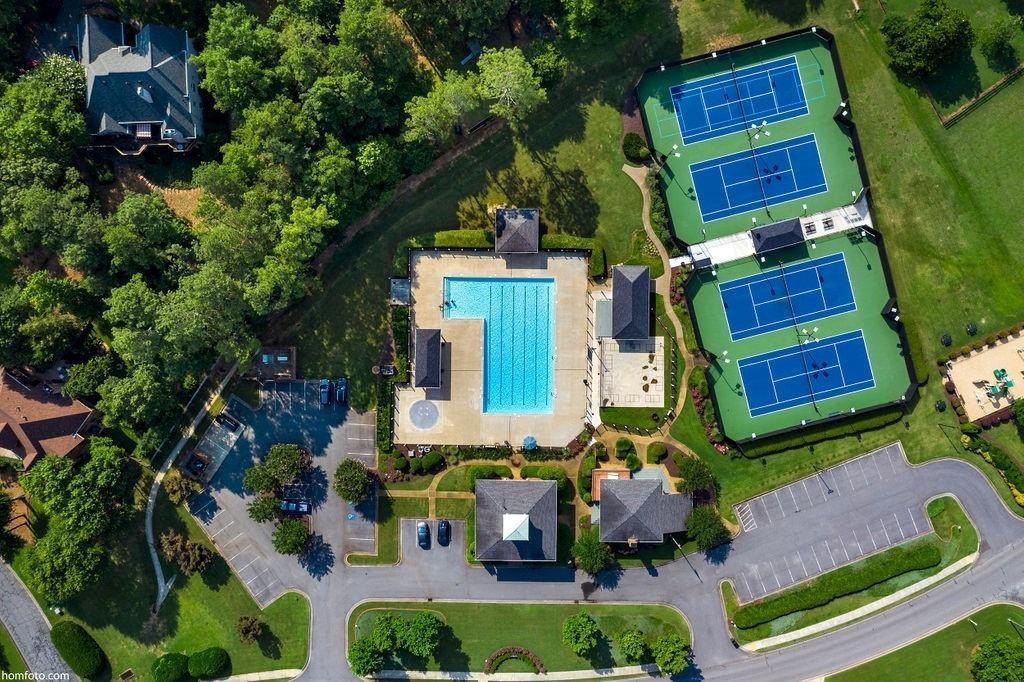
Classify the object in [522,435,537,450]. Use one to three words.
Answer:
umbrella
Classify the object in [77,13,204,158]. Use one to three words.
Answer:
house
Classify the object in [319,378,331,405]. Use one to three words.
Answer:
vehicle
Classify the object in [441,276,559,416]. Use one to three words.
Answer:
swimming pool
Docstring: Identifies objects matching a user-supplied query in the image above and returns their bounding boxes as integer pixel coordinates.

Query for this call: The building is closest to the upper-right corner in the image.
[749,217,806,254]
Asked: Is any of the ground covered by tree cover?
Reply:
Yes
